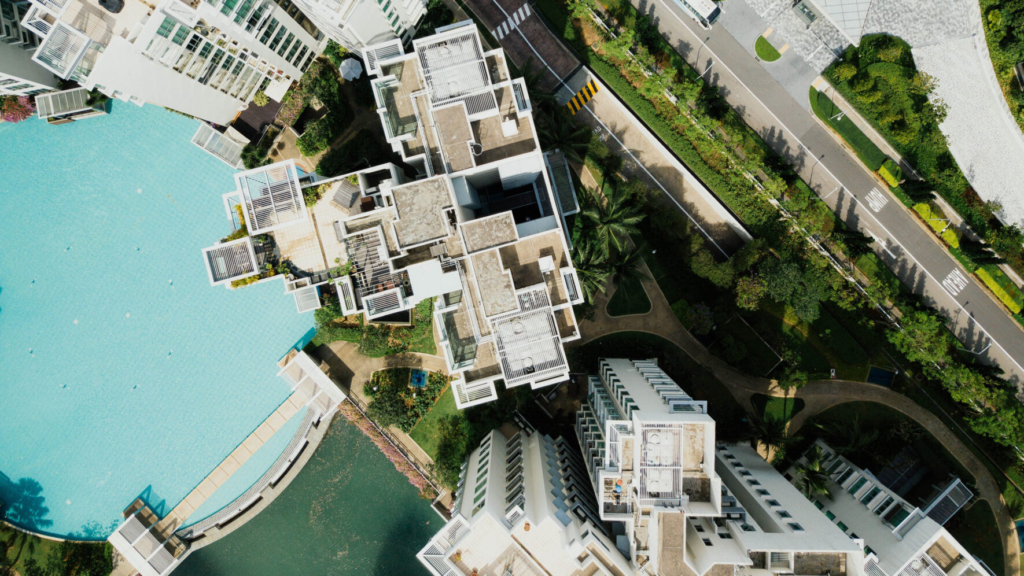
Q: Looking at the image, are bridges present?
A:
Yes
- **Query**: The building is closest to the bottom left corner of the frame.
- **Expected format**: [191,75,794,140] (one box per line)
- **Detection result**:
[108,496,198,576]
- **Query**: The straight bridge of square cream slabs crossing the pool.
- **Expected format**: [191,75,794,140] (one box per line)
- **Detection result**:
[163,379,320,530]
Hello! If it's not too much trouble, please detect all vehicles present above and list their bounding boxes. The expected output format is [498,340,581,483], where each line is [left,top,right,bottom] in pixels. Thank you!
[675,0,725,29]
